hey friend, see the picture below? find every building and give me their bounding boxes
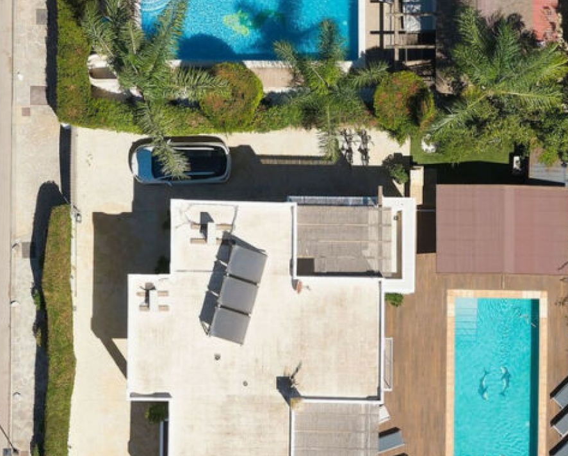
[127,197,415,456]
[434,184,568,277]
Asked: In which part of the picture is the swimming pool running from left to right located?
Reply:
top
